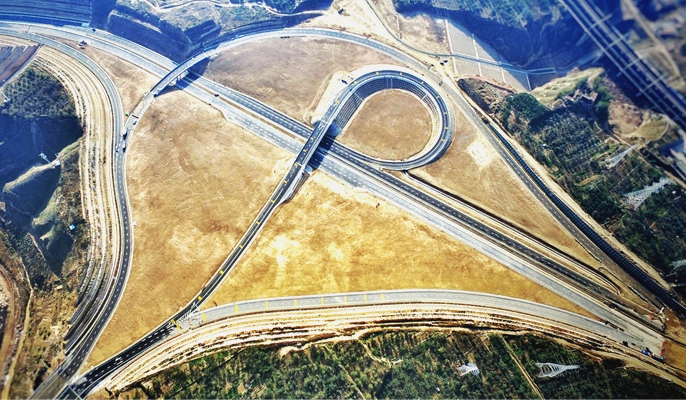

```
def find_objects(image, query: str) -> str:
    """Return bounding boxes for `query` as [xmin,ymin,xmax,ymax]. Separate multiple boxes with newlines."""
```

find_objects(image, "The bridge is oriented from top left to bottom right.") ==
[555,0,686,144]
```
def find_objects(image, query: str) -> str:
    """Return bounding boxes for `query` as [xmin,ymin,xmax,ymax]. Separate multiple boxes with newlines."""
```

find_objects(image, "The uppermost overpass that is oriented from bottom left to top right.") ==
[147,42,230,96]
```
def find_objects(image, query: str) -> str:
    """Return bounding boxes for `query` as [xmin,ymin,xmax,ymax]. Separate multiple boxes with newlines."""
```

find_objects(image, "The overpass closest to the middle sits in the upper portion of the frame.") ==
[291,121,328,170]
